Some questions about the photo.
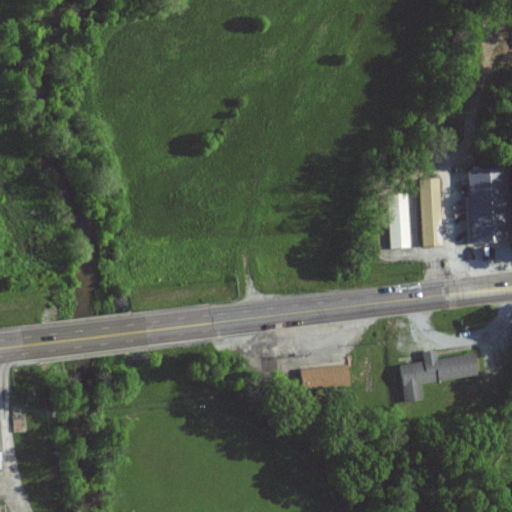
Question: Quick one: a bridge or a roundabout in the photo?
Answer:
bridge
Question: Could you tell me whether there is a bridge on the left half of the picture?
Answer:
Yes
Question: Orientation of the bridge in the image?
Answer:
horizontally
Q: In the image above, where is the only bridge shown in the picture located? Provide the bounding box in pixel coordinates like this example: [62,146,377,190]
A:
[20,311,148,365]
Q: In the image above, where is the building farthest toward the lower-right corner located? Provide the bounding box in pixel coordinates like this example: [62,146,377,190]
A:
[400,349,476,401]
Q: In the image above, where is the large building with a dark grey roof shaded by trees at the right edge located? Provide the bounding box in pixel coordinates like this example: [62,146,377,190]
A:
[468,172,510,244]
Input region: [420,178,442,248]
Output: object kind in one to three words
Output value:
shed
